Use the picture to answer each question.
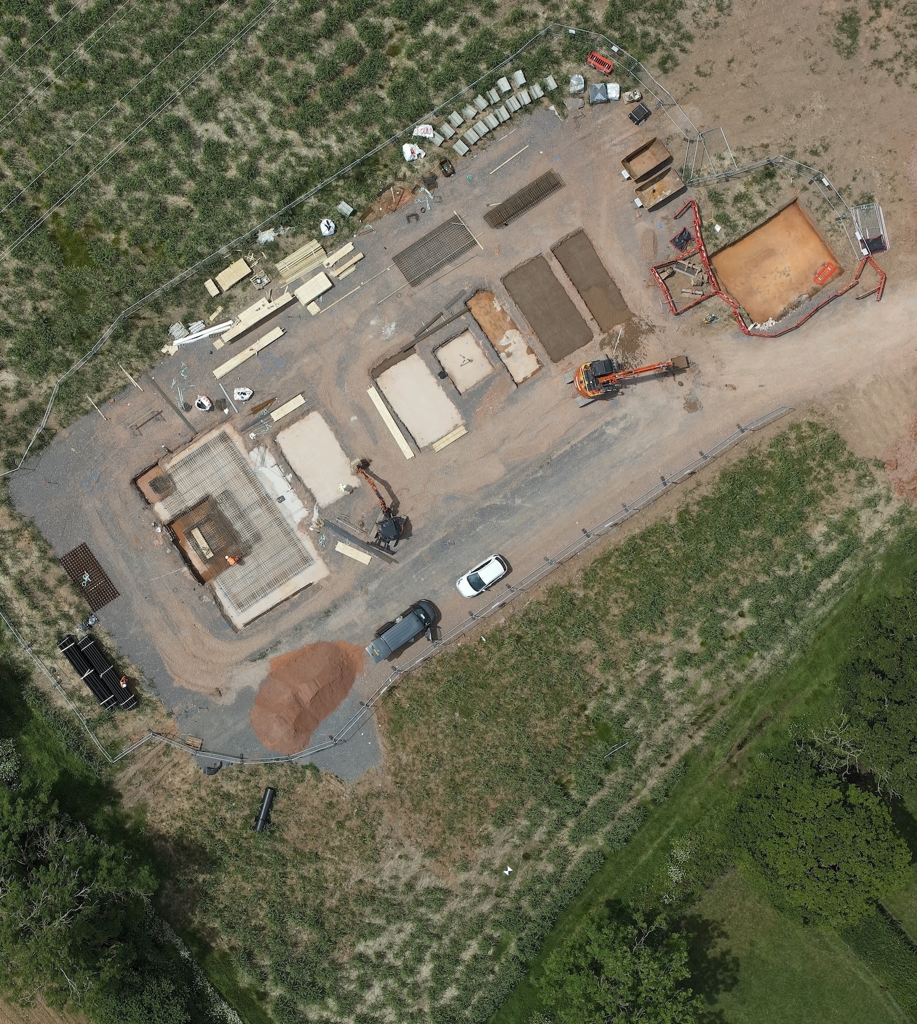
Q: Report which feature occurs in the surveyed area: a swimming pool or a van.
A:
van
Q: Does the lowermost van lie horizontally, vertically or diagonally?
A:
diagonally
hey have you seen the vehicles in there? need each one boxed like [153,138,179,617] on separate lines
[456,552,510,599]
[561,354,693,407]
[348,454,406,555]
[367,596,443,662]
